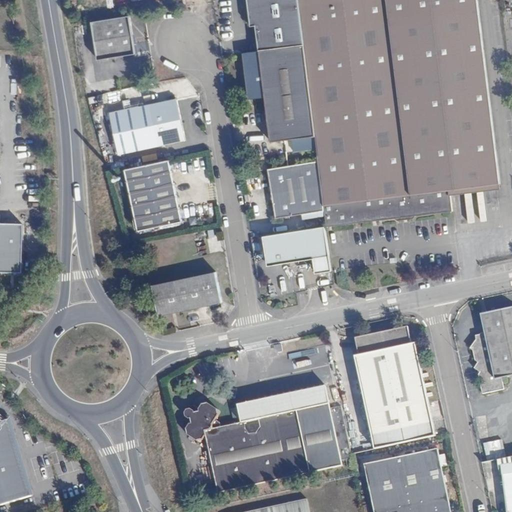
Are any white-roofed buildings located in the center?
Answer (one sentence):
Yes, looking in the center, one can make out a white-roofed building.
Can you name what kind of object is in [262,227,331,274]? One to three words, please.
building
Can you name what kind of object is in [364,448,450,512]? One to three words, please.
building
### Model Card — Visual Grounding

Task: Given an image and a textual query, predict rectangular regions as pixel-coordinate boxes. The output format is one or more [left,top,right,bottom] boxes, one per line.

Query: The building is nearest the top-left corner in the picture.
[90,16,135,60]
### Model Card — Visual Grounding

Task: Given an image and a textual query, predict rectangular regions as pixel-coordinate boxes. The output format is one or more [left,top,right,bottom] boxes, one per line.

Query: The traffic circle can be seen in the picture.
[17,250,166,474]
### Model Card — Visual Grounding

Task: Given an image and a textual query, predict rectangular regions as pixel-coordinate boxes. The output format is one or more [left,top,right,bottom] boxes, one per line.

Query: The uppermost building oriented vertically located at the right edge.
[384,0,500,196]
